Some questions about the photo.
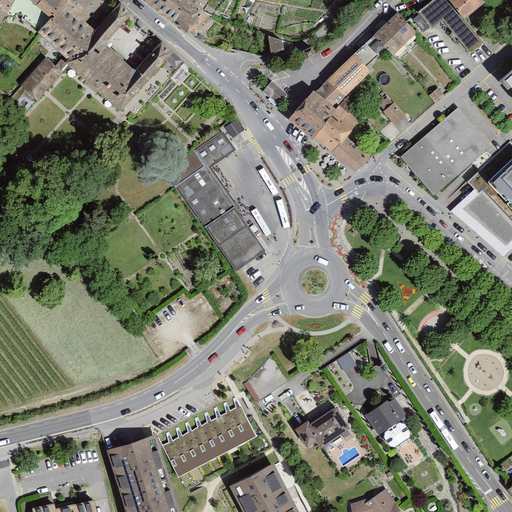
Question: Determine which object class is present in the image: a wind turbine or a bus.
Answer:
bus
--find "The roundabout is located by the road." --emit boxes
[280,247,350,317]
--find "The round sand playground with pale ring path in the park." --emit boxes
[464,350,510,395]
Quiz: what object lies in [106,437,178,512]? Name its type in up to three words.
building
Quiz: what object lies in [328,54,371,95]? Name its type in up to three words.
house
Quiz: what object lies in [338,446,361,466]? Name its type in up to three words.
swimming pool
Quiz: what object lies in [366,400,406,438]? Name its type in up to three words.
house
